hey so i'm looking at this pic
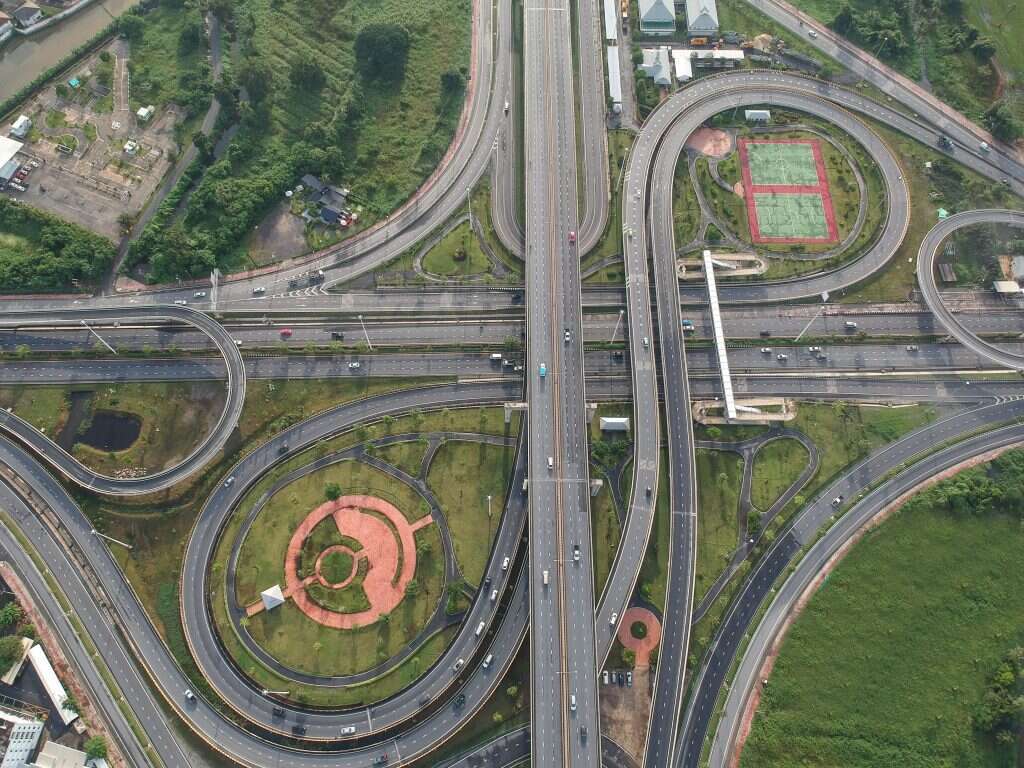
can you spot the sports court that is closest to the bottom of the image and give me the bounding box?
[745,188,839,243]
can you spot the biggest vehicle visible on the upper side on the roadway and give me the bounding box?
[288,268,323,289]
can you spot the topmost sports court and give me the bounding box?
[738,139,830,188]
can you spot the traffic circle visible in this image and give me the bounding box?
[617,608,661,668]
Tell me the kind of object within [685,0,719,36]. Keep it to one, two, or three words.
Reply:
building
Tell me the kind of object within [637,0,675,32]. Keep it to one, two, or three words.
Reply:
building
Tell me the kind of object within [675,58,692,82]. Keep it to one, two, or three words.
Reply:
shed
